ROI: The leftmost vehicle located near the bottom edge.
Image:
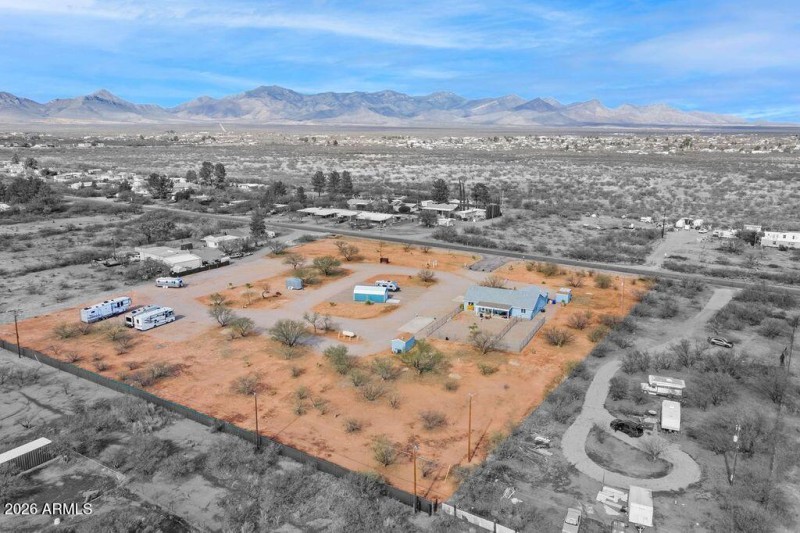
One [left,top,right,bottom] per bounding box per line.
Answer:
[562,496,584,533]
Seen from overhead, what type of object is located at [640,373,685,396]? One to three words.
truck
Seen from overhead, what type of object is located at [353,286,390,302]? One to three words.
shed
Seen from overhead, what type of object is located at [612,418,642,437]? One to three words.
car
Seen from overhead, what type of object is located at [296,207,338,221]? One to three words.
house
